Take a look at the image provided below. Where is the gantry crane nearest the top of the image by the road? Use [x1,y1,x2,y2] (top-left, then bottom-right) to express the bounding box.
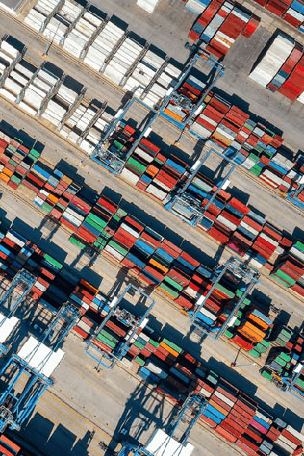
[156,58,220,132]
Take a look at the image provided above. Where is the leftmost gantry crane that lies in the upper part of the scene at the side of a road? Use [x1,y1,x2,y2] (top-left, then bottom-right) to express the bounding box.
[92,97,157,175]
